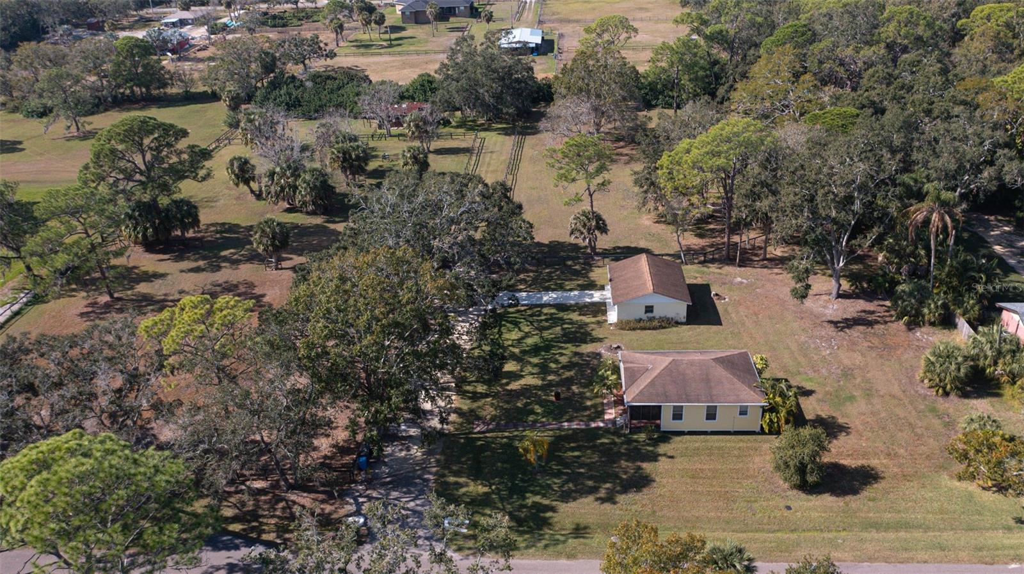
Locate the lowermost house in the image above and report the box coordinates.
[612,350,767,432]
